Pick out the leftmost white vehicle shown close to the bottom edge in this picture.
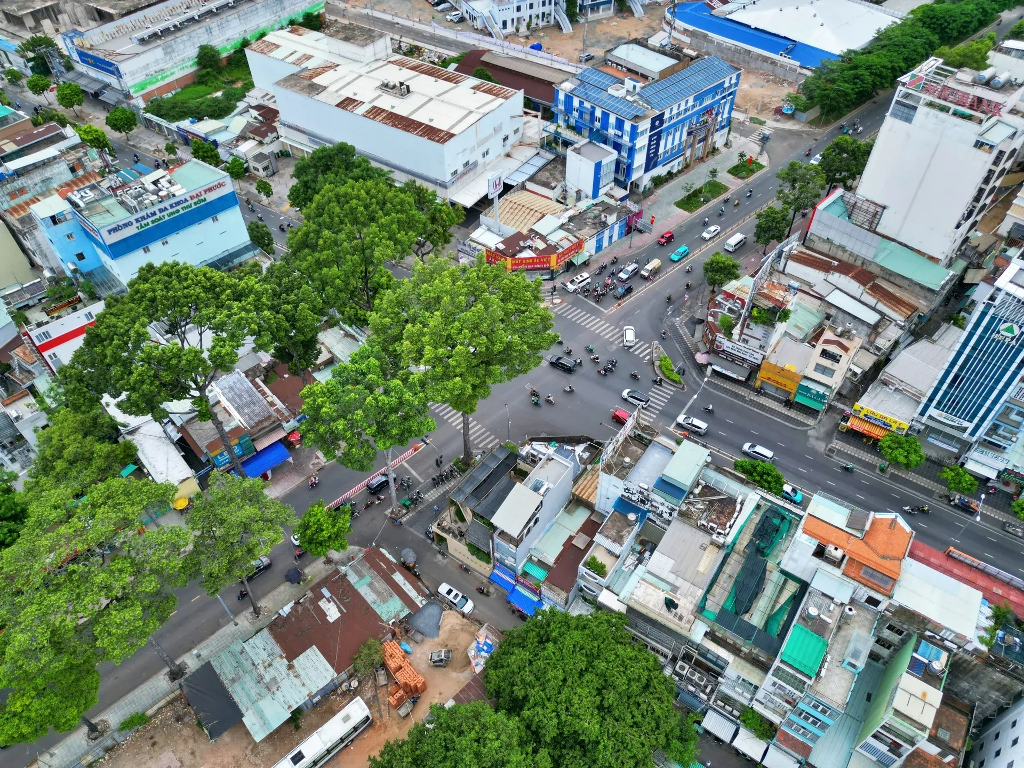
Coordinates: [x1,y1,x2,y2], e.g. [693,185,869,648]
[263,696,376,768]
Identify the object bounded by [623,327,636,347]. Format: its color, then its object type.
white vehicle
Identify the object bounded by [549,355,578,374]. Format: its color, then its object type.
black car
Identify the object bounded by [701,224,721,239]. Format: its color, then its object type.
white car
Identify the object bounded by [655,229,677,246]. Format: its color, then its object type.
red car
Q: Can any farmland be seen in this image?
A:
No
